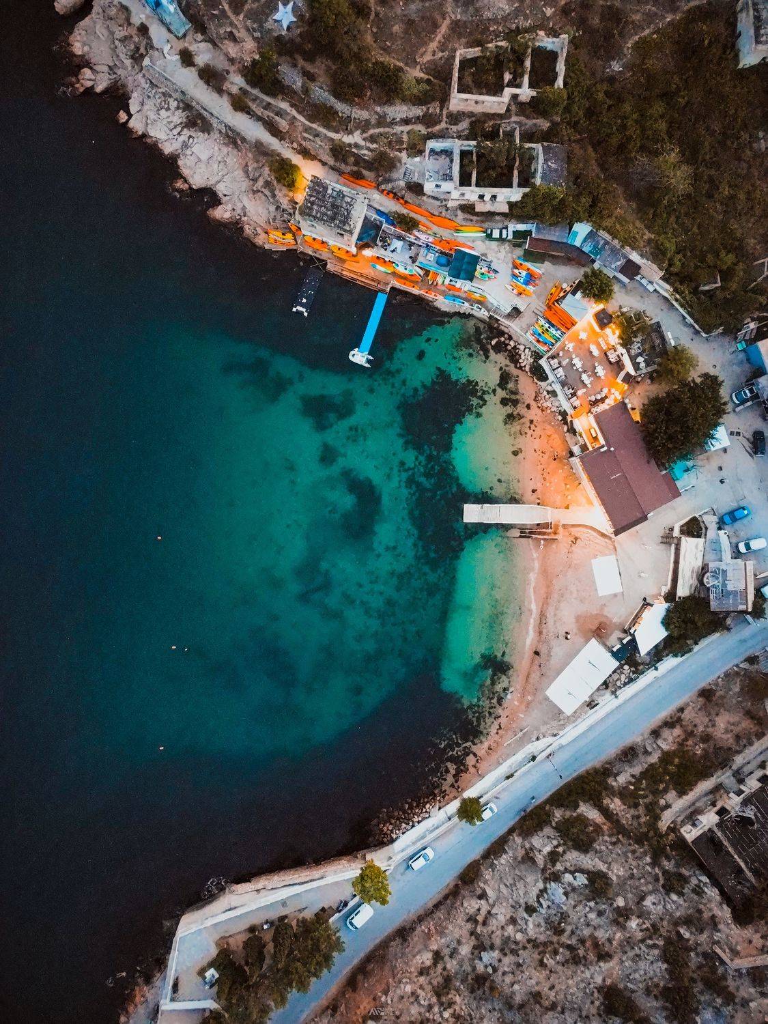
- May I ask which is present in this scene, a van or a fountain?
van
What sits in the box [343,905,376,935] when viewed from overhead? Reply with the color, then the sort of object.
white van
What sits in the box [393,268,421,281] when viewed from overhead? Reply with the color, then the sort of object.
orange boat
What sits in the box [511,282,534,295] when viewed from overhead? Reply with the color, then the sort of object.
orange boat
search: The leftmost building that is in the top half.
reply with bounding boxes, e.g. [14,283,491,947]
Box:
[300,175,368,251]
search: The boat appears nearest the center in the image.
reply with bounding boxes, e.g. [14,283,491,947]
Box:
[350,347,374,367]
